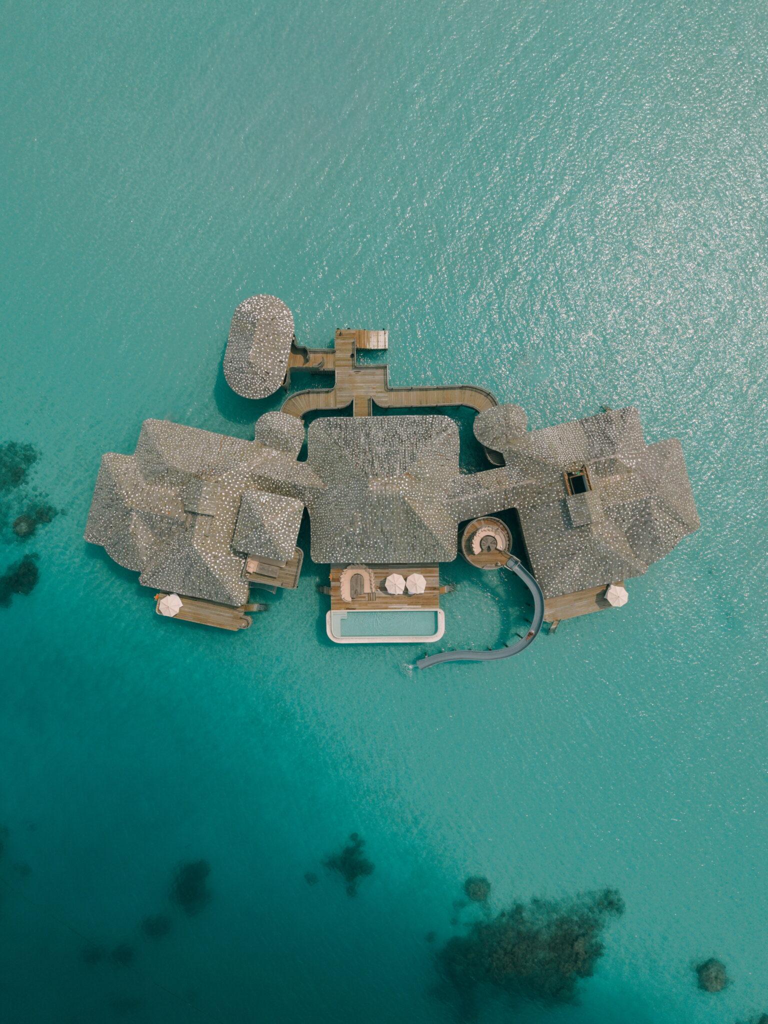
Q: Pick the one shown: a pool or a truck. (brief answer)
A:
pool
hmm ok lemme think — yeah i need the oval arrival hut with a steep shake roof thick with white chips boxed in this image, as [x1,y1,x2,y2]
[223,295,294,399]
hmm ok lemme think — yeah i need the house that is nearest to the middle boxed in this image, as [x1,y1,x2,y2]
[307,414,459,564]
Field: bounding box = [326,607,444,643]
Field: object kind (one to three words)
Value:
swimming pool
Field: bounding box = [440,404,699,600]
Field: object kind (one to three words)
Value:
house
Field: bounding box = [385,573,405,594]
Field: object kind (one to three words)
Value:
umbrella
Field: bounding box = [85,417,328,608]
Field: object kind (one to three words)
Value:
house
